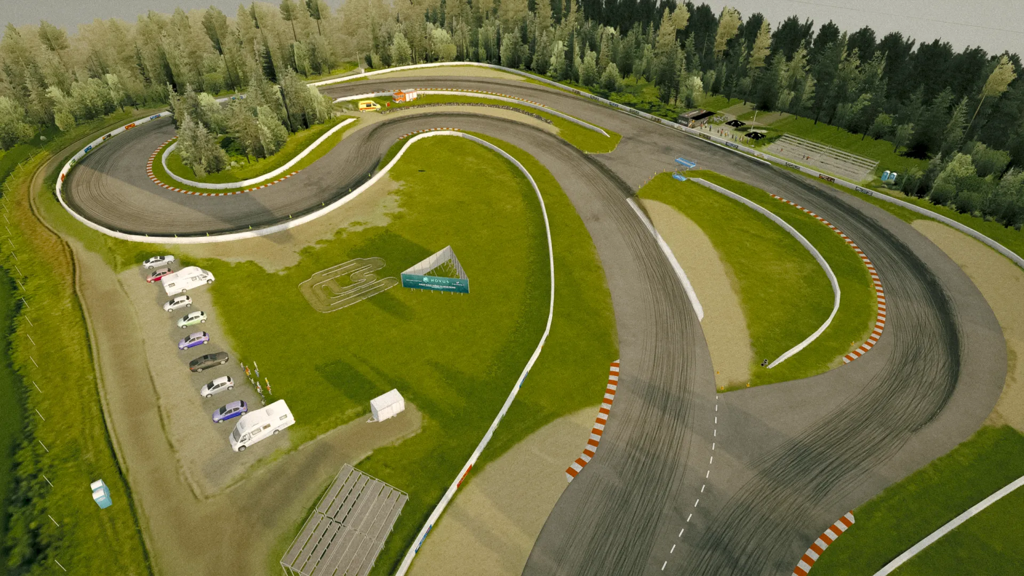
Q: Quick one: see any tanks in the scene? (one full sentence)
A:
No, no tank is visible in the view.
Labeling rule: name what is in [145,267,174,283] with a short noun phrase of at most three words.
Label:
car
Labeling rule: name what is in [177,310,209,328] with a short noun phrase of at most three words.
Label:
car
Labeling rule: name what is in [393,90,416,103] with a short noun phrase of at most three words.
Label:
vehicle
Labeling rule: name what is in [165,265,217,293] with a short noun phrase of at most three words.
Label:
camper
